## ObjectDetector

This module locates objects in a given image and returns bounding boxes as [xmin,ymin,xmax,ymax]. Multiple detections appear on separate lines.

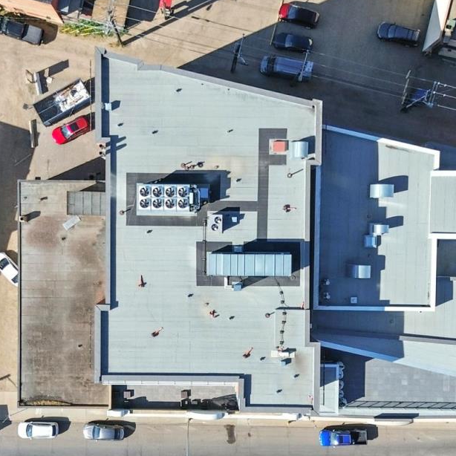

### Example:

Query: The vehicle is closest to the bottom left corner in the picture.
[19,420,59,441]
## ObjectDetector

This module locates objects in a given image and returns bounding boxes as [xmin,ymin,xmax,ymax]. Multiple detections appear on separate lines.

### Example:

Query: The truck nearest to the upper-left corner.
[0,15,44,44]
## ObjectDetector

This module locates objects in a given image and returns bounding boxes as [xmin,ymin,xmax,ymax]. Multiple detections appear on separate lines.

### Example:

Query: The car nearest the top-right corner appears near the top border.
[377,22,421,45]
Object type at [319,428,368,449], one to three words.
vehicle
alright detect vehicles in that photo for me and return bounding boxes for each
[319,428,368,449]
[19,420,59,441]
[377,22,421,45]
[261,53,313,79]
[0,252,19,291]
[85,422,125,442]
[52,115,91,144]
[0,15,44,44]
[278,5,320,27]
[273,31,313,53]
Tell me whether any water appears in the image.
No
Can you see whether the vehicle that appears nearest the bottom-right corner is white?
No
